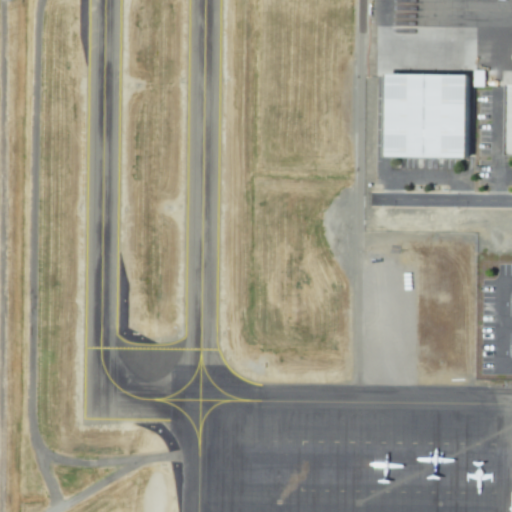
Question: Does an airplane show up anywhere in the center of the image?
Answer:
No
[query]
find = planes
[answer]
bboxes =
[468,462,492,495]
[417,448,455,481]
[369,454,406,484]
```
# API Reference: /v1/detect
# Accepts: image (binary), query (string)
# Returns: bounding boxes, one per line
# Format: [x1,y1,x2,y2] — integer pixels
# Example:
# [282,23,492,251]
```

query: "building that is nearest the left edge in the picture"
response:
[382,72,469,156]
